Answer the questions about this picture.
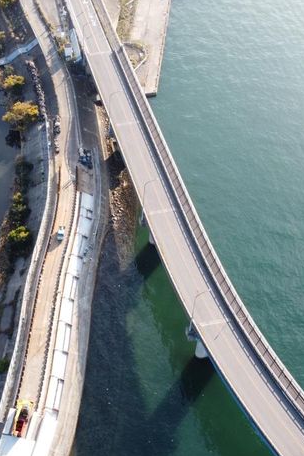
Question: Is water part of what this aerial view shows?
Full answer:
Yes, there is water in the image.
